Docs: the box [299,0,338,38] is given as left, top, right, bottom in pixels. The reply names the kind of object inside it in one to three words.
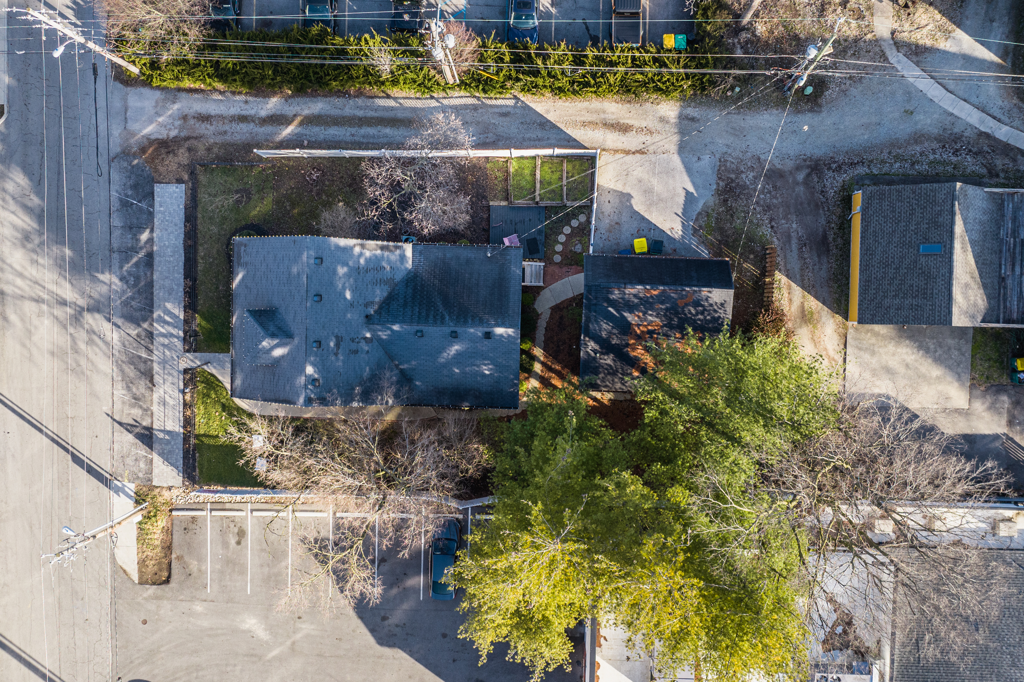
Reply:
car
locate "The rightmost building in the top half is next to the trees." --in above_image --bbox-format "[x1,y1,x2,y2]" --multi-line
[847,183,1023,327]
